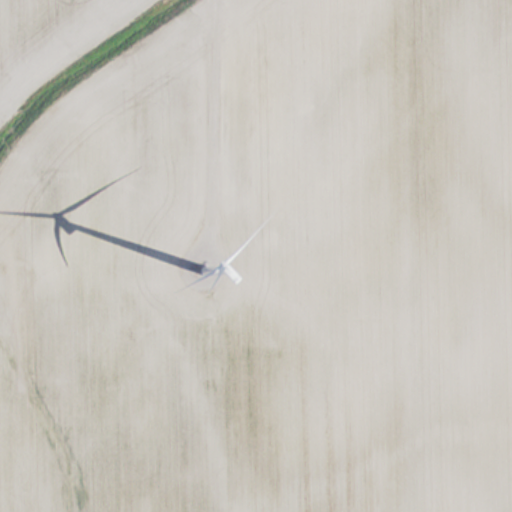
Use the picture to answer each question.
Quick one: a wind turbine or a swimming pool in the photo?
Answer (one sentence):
There is a wind turbine in the scene.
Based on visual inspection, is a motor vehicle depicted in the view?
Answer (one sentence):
No, I find no motor vehicle anywhere in the image.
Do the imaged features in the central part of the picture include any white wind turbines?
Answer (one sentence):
Yes, a white wind turbine shows up in the central part of the picture.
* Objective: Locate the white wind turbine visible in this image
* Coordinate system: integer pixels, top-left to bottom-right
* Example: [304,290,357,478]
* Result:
[174,214,273,298]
